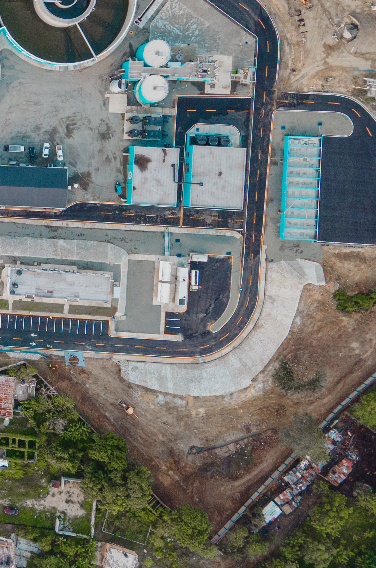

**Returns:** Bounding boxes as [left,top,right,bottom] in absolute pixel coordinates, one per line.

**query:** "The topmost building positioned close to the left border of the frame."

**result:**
[0,164,70,208]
